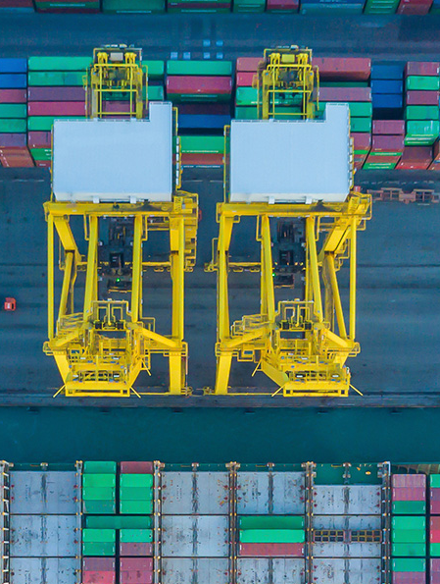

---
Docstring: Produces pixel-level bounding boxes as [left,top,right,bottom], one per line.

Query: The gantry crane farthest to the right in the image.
[195,47,376,400]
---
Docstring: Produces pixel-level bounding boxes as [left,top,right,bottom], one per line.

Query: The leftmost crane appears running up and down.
[39,46,207,399]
